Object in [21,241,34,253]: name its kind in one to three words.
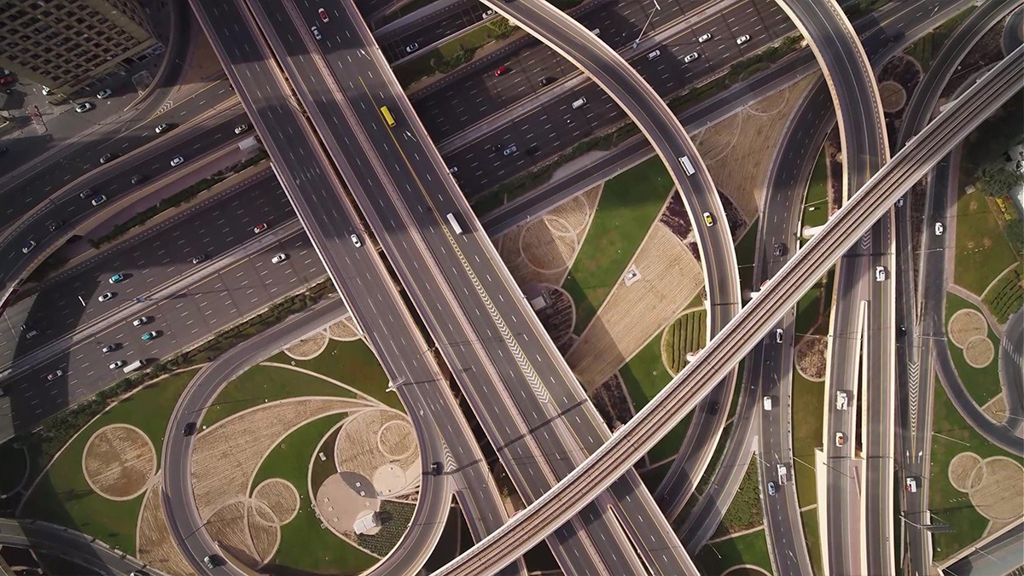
vehicle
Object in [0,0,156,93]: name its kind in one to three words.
building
